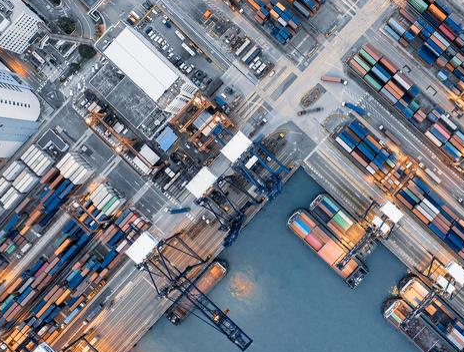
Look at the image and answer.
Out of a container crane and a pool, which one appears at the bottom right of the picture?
container crane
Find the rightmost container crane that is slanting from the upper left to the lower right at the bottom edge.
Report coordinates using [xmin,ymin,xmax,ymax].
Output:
[126,224,251,349]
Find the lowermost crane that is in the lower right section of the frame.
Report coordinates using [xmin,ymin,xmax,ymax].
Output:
[405,240,464,324]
